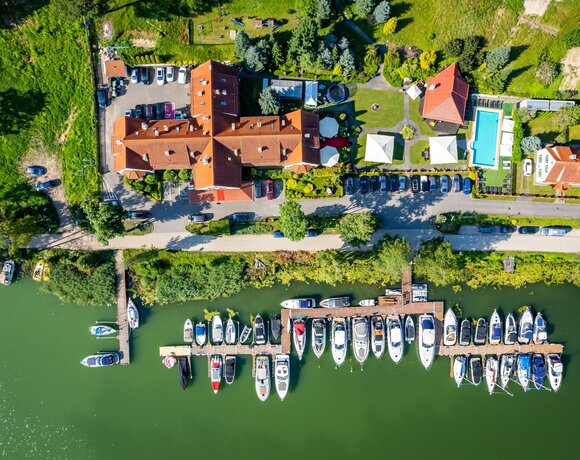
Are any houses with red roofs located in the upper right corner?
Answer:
Yes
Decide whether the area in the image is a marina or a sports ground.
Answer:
marina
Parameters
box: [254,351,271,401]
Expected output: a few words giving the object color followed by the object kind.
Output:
white boat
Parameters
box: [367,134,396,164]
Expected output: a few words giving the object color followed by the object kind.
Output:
white tent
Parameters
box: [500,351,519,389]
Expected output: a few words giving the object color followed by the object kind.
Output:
white boat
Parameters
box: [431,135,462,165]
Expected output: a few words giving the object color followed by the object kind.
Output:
white tent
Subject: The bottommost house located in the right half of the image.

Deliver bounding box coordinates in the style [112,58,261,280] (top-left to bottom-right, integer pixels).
[532,145,580,195]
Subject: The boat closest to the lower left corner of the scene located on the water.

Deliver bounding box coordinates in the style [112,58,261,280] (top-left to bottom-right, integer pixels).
[80,352,121,367]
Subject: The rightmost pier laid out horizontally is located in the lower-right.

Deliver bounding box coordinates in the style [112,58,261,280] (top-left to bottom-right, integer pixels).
[434,343,563,356]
